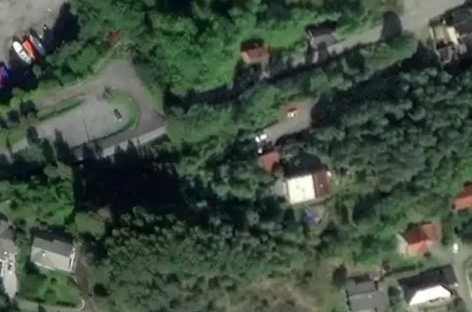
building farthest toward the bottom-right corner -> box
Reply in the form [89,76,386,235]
[401,265,456,312]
